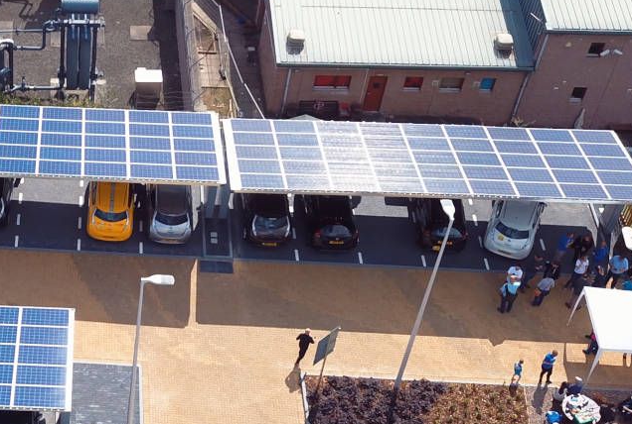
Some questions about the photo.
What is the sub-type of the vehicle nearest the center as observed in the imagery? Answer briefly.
automobile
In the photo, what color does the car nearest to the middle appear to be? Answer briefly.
black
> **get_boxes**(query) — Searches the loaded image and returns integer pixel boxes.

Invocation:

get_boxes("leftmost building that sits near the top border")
[246,0,533,121]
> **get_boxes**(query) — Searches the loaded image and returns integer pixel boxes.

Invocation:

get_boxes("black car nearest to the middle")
[301,200,356,247]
